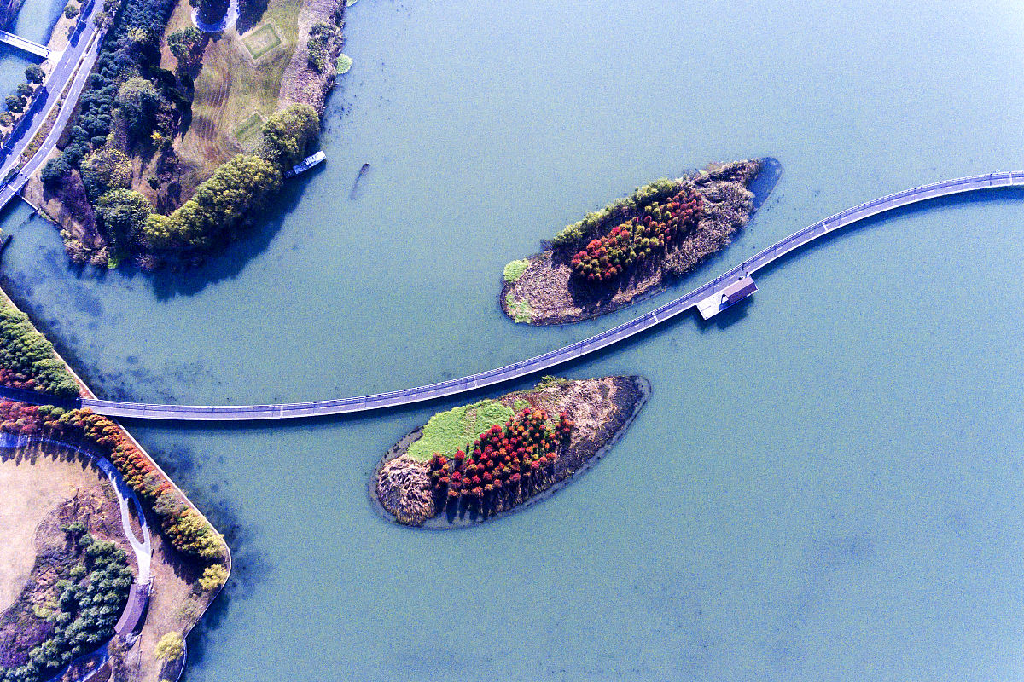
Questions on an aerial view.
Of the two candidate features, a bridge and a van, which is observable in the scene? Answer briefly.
bridge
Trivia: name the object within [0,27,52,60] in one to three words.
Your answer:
bridge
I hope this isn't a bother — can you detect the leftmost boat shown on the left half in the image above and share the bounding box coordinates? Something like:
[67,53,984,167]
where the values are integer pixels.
[303,150,325,168]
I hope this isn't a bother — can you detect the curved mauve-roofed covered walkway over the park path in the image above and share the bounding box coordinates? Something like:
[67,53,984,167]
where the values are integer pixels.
[114,581,151,636]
